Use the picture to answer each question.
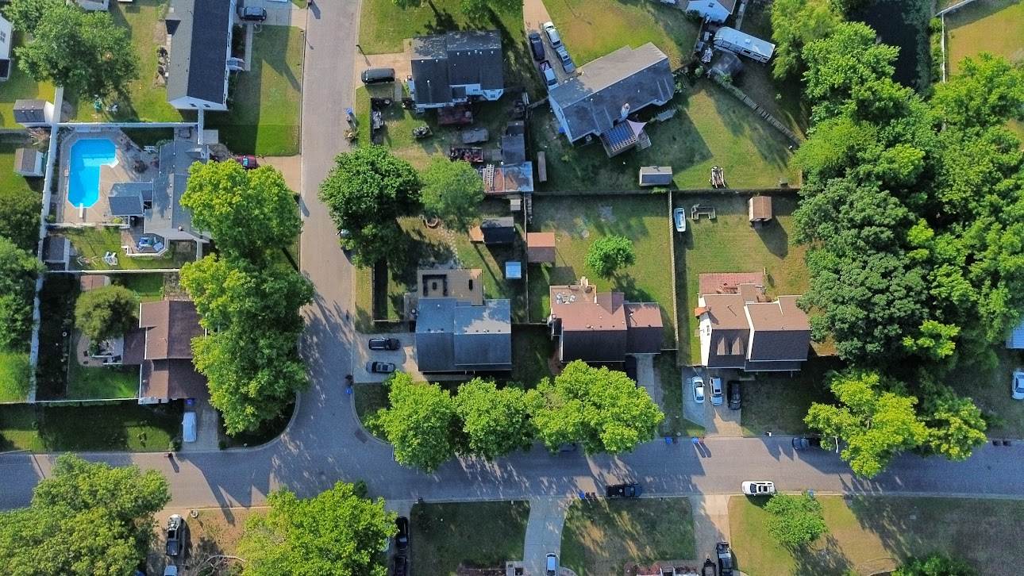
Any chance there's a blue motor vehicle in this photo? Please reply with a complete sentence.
Yes, this view includes a blue motor vehicle.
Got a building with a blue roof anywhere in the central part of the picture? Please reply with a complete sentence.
Yes, a building with a blue roof shows up in the central part of the picture.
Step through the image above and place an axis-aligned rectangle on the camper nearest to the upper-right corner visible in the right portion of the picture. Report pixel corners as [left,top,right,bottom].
[712,23,776,65]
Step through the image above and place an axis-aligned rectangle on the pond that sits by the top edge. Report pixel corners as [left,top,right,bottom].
[854,0,932,98]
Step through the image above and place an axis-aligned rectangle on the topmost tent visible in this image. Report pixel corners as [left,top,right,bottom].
[715,47,746,79]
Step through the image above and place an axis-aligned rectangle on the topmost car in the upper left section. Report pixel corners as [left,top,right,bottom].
[238,4,267,21]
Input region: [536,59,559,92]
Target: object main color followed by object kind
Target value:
blue truck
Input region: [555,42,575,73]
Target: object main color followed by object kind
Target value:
blue car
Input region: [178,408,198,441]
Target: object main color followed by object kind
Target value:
blue vehicle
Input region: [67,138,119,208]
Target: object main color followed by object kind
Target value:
blue swimming pool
